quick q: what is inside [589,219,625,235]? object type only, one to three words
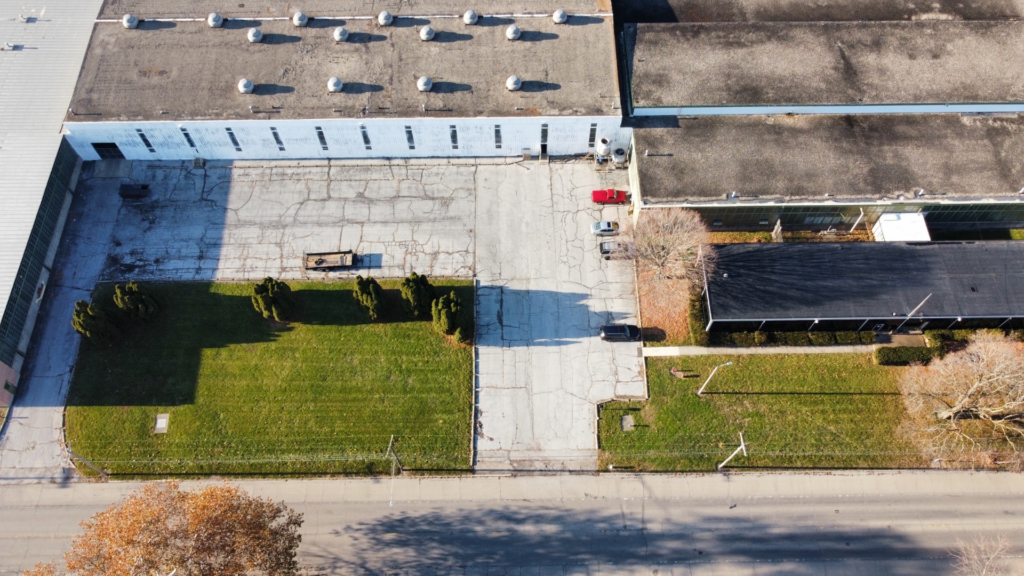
car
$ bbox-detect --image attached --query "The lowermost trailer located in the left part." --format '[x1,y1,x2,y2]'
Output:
[299,246,364,270]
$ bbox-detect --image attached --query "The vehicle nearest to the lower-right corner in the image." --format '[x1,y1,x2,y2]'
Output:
[600,321,640,340]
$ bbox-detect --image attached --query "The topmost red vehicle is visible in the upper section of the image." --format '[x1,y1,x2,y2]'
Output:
[591,188,626,204]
